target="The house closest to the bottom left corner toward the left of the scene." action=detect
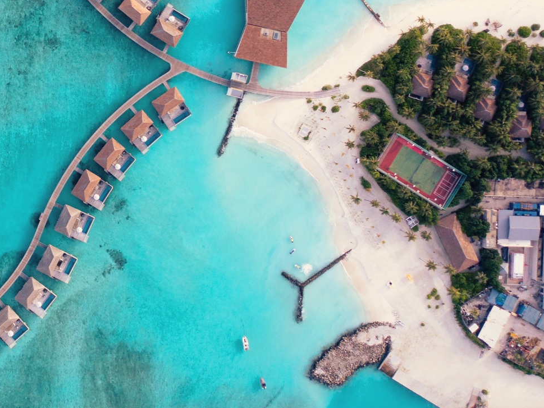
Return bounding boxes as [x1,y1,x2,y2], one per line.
[0,302,26,350]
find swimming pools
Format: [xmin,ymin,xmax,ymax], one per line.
[65,257,79,277]
[170,7,190,22]
[42,294,58,313]
[492,79,502,94]
[172,111,192,127]
[463,58,475,73]
[518,97,529,110]
[99,185,114,205]
[12,326,30,343]
[120,157,137,175]
[144,133,162,149]
[82,216,95,236]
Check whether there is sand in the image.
Yes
